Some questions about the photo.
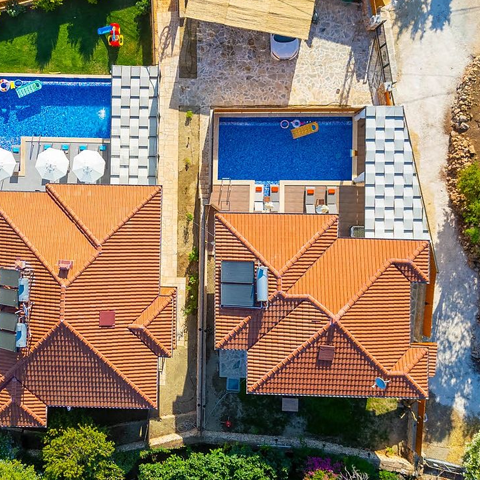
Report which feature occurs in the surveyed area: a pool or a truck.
pool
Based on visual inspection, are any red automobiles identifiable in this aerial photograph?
No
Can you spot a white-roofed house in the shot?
No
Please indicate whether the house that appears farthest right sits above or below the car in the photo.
below it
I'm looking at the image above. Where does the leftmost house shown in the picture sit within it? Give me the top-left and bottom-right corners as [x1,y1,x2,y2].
[0,182,177,429]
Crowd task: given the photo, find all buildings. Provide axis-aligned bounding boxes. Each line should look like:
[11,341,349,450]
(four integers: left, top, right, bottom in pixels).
[0,182,177,429]
[213,213,439,400]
